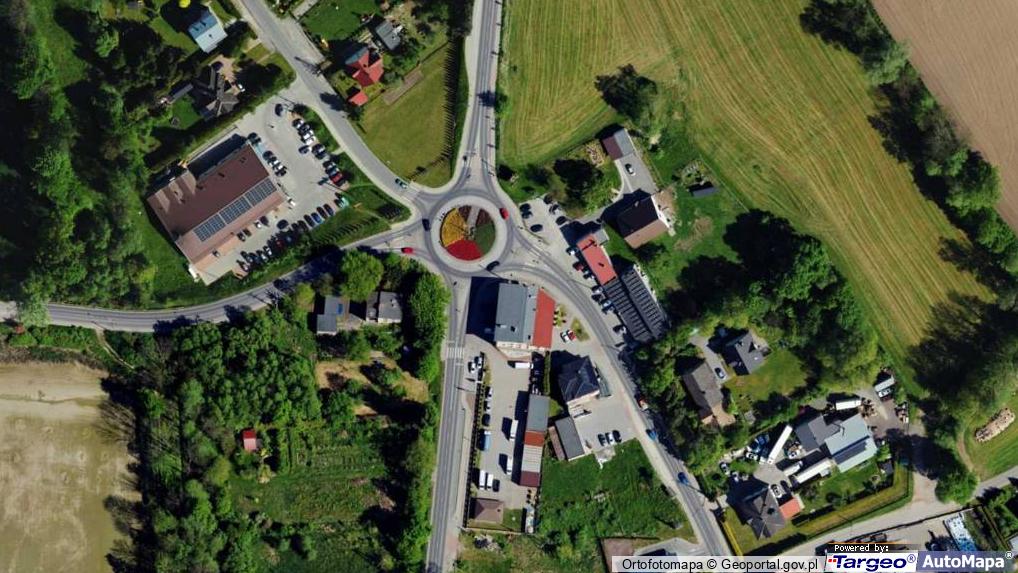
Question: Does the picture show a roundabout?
Yes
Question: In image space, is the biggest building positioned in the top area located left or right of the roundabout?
to the left of it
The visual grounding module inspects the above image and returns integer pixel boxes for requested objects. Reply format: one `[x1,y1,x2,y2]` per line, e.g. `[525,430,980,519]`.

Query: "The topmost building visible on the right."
[603,130,633,161]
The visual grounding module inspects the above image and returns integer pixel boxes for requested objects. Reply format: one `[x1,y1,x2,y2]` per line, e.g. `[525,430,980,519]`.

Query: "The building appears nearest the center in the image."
[495,283,556,362]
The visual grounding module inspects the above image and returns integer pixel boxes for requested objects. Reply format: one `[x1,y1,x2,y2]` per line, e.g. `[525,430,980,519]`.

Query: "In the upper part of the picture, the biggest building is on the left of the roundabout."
[147,143,287,265]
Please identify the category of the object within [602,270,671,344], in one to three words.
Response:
building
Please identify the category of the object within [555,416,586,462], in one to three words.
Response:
shed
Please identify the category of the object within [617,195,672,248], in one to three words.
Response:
house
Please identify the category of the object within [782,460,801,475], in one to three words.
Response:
vehicle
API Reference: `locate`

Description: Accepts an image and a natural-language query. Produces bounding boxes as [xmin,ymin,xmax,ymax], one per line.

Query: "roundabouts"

[422,186,516,280]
